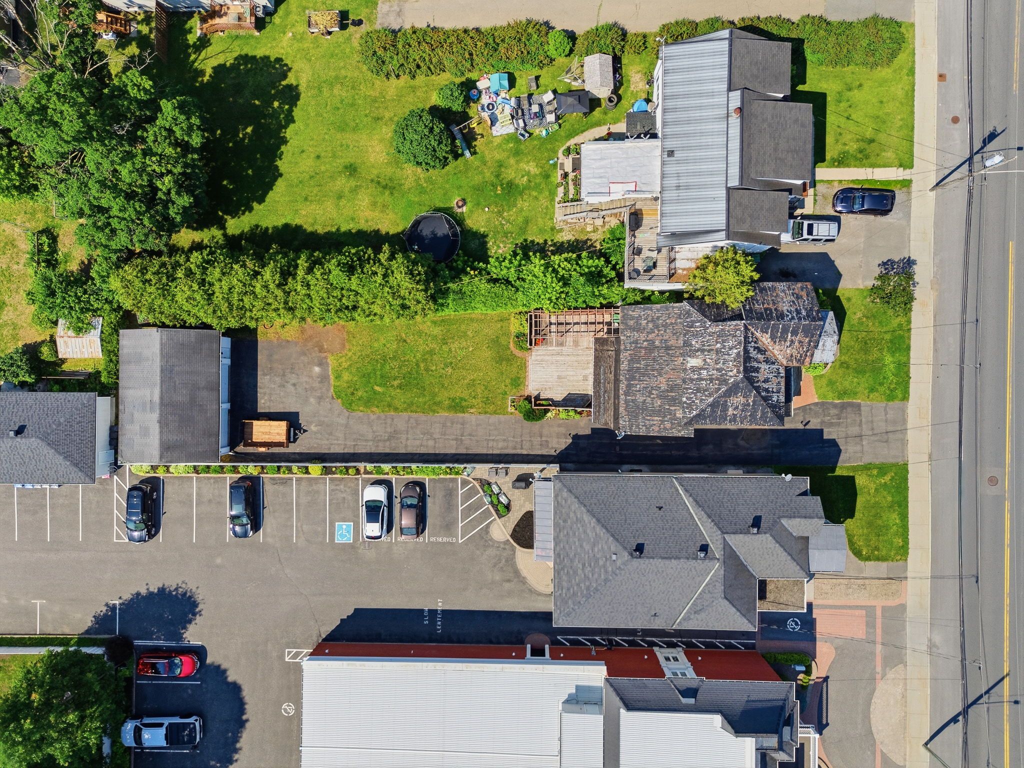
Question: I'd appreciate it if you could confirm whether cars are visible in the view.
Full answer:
Yes, the frame does contain a car.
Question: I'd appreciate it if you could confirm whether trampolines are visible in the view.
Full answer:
Yes, you can see a trampoline in this photo.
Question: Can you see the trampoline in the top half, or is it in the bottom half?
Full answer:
The trampoline sits in the top half of the picture.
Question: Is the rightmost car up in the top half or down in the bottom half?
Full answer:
The rightmost car is in the top half of the image.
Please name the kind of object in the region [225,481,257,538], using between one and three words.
car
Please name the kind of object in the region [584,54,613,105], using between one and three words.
shed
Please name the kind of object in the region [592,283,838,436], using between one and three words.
house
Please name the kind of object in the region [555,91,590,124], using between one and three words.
gazebo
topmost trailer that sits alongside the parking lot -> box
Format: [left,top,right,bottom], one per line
[239,417,301,449]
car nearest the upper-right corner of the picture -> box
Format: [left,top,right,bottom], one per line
[829,183,896,215]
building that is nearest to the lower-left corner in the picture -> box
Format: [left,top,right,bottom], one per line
[0,392,117,485]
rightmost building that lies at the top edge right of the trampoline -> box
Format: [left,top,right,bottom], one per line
[655,28,818,253]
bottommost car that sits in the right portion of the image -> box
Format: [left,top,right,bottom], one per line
[781,215,835,246]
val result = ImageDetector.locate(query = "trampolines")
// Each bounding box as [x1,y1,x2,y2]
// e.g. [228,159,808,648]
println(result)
[403,207,457,259]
